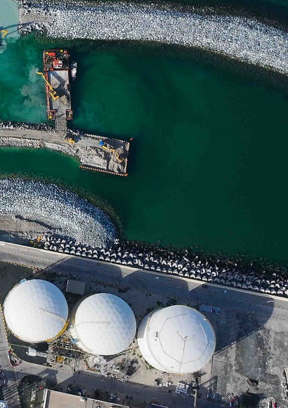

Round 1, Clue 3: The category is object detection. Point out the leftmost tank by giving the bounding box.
[2,278,69,345]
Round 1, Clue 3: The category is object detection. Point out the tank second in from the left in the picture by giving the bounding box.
[71,293,136,355]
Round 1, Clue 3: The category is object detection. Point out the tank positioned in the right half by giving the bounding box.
[137,305,216,374]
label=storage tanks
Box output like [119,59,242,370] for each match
[137,305,216,374]
[71,293,136,355]
[2,278,69,345]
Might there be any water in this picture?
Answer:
Yes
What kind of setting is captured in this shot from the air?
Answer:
industrial area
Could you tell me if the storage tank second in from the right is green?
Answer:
No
